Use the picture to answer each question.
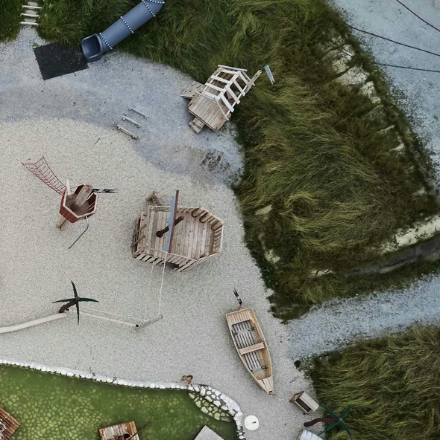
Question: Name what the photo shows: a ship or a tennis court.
ship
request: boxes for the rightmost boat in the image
[221,291,275,395]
